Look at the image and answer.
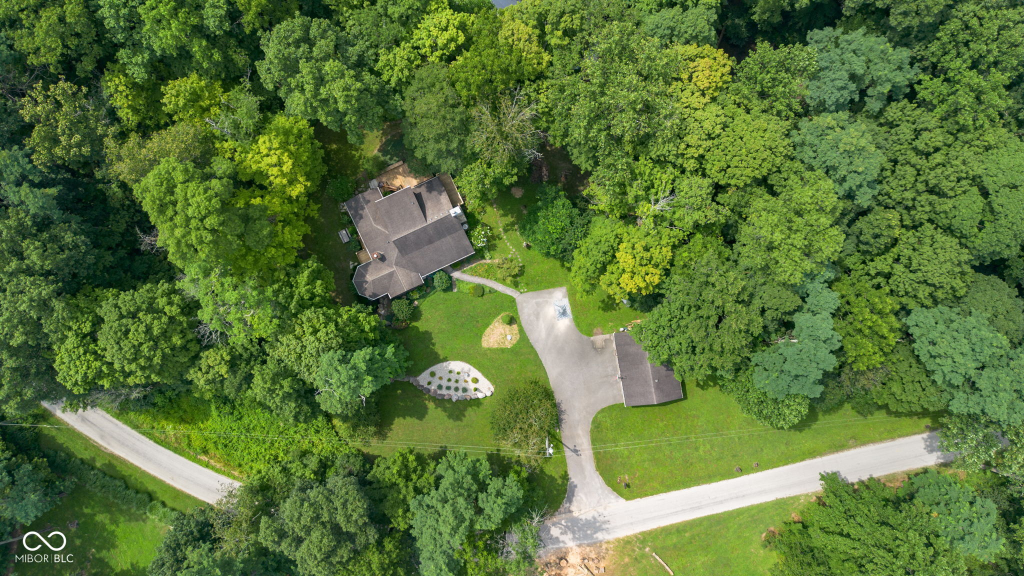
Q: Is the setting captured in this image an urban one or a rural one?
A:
rural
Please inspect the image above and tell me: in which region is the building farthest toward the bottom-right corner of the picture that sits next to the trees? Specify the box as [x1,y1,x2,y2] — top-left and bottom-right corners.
[614,330,683,407]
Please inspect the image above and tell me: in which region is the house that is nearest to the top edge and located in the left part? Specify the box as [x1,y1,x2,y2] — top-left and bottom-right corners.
[344,176,475,300]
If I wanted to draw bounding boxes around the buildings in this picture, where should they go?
[344,176,475,300]
[614,330,683,407]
